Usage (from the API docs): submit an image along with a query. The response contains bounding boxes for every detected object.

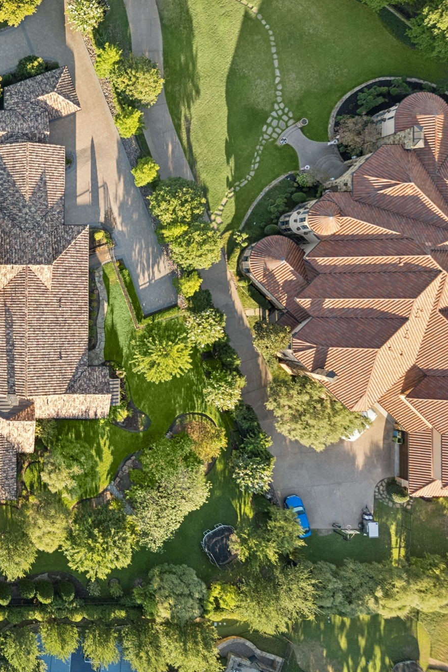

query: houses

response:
[0,64,121,501]
[239,92,448,498]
